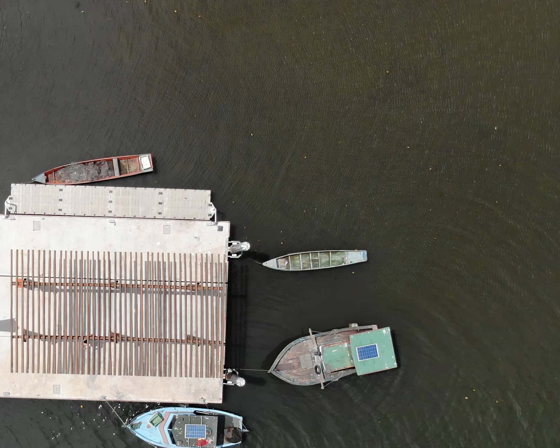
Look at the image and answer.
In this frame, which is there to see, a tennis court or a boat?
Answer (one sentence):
Visible in the photo is a boat.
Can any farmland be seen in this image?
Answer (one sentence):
No, farmland can't be seen anywhere here.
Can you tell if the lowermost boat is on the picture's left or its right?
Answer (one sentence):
The lowermost boat appears in the left half of the scene.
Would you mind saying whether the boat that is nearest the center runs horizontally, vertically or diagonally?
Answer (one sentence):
The boat that is nearest the center is laid out horizontally.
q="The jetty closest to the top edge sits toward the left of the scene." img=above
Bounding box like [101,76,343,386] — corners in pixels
[3,184,219,225]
